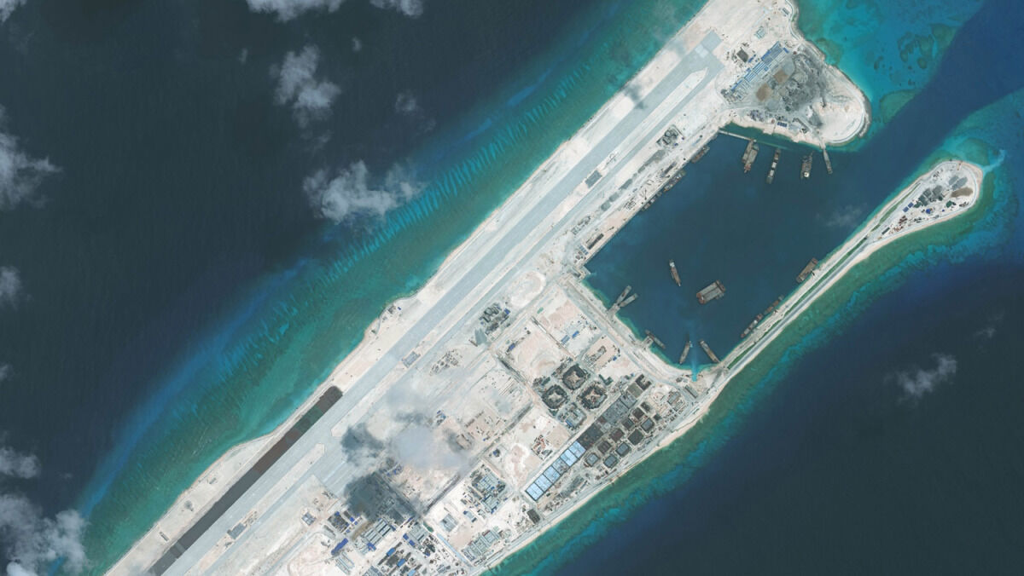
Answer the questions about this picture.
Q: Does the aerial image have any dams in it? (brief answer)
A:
No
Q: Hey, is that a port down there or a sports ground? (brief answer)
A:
port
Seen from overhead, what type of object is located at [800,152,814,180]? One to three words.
ship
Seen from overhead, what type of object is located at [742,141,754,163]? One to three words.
ship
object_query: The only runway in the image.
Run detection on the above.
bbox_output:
[160,29,723,576]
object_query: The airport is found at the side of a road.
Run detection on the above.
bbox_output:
[142,29,725,576]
